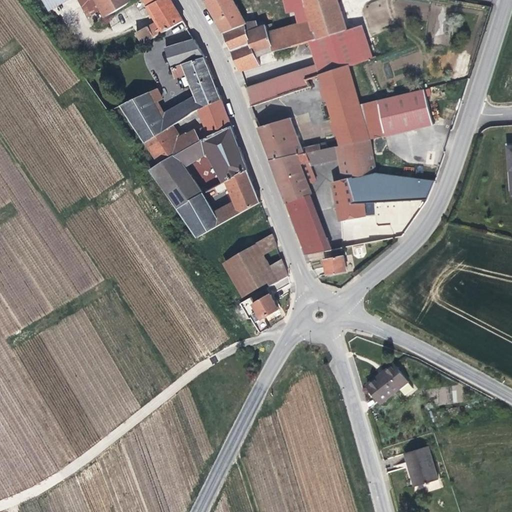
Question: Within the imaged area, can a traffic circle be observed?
Yes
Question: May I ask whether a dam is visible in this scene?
No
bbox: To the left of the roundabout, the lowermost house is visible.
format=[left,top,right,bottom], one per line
[251,294,278,321]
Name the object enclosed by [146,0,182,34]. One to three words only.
house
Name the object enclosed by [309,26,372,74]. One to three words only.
building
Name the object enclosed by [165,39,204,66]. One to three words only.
barn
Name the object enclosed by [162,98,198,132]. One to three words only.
shed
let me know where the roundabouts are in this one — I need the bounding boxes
[276,270,386,361]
